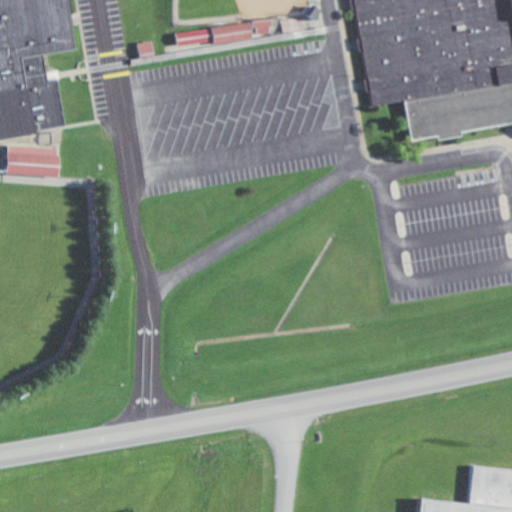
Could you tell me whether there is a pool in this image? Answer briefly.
No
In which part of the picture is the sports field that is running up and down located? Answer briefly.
left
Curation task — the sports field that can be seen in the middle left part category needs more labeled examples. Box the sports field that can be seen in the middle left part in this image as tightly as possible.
[0,183,92,381]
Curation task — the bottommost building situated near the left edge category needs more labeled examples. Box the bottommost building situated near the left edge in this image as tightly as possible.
[6,147,60,176]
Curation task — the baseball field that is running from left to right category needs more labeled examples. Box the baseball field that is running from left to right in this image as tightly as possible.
[178,0,308,24]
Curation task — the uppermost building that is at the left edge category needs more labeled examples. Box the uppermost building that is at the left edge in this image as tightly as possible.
[0,0,76,140]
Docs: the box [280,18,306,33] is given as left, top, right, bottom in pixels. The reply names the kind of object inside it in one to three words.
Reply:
building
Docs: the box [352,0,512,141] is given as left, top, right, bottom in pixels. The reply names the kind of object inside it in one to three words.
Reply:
building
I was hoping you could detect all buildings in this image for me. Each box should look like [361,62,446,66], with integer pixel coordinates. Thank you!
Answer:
[210,22,252,44]
[174,28,209,46]
[6,147,60,176]
[280,18,306,33]
[415,466,512,512]
[252,19,270,37]
[0,0,76,140]
[136,42,154,56]
[352,0,512,141]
